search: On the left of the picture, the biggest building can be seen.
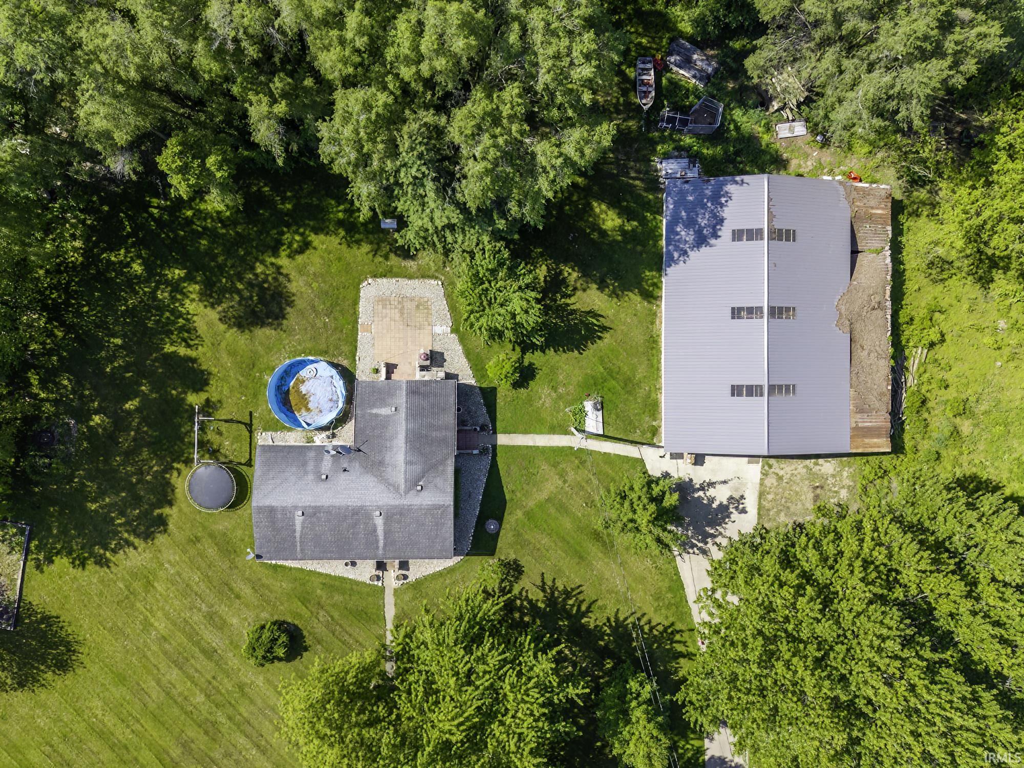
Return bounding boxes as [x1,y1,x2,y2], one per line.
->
[249,380,458,561]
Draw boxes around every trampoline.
[185,463,236,512]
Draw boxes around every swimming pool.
[266,356,350,431]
